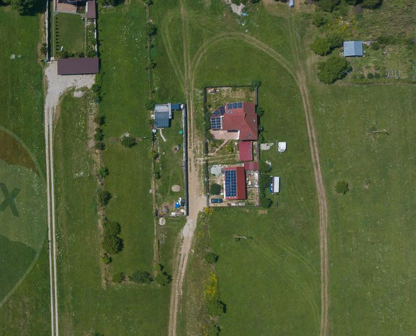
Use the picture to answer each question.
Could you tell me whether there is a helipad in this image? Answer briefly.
No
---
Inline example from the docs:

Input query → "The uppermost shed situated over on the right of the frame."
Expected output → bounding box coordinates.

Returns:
[341,41,363,57]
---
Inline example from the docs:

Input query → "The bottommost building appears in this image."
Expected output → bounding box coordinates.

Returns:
[221,167,246,200]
